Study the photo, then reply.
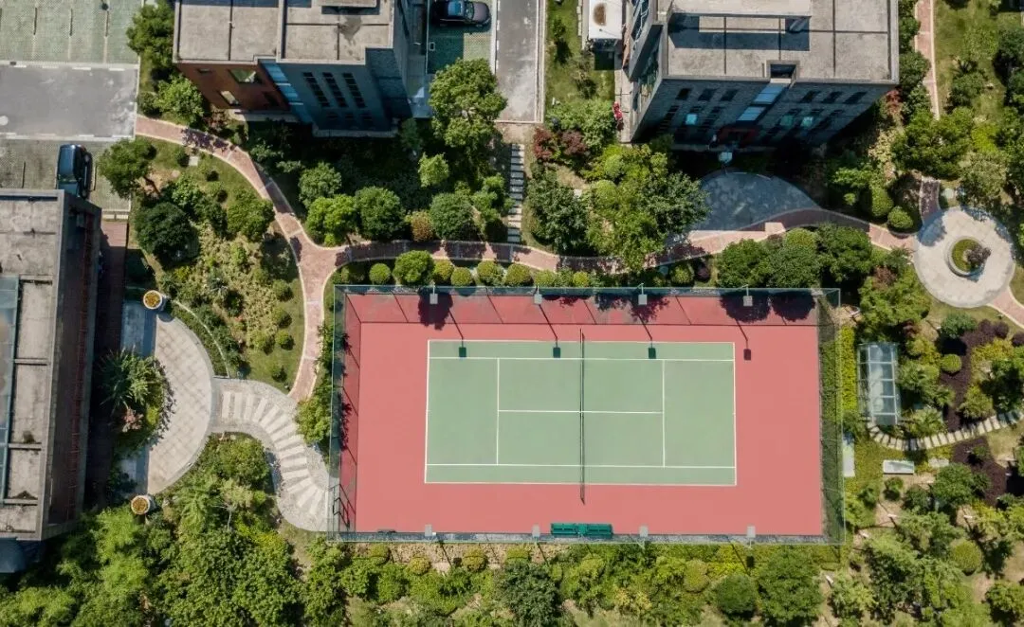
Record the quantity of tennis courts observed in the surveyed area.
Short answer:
one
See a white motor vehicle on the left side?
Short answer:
No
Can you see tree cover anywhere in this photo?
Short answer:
Yes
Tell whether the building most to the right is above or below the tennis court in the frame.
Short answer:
above it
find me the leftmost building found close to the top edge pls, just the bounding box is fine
[173,0,415,140]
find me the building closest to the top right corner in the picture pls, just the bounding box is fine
[626,0,897,156]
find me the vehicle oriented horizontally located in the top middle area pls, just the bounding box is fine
[432,0,490,27]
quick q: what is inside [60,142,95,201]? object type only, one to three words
car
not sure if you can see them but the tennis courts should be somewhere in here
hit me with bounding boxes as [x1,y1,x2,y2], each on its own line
[339,293,822,536]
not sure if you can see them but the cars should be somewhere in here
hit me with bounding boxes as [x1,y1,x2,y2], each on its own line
[432,0,490,27]
[60,142,95,201]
